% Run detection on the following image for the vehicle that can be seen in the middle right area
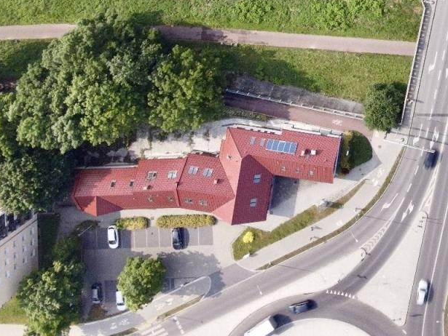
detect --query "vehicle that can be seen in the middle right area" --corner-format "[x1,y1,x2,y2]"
[424,149,437,171]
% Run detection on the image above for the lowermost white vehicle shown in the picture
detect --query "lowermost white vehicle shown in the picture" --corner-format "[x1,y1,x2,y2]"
[241,313,274,336]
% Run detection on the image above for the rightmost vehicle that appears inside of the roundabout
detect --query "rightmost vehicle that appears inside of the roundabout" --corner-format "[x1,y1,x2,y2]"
[287,299,313,314]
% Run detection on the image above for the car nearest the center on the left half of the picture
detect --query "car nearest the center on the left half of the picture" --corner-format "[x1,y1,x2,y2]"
[173,226,185,250]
